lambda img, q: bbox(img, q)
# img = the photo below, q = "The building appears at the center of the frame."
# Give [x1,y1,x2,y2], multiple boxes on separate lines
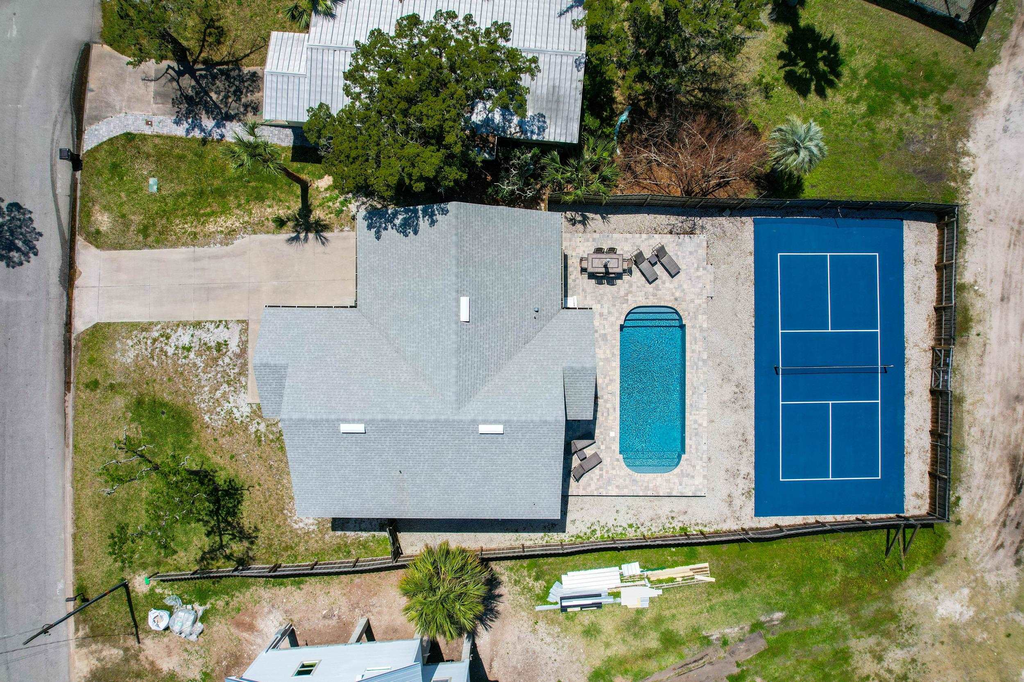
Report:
[253,201,595,518]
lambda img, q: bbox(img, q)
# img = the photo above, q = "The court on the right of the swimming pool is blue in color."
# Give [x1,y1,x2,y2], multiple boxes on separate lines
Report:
[753,217,905,517]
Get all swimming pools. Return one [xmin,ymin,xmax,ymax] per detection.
[614,301,691,478]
